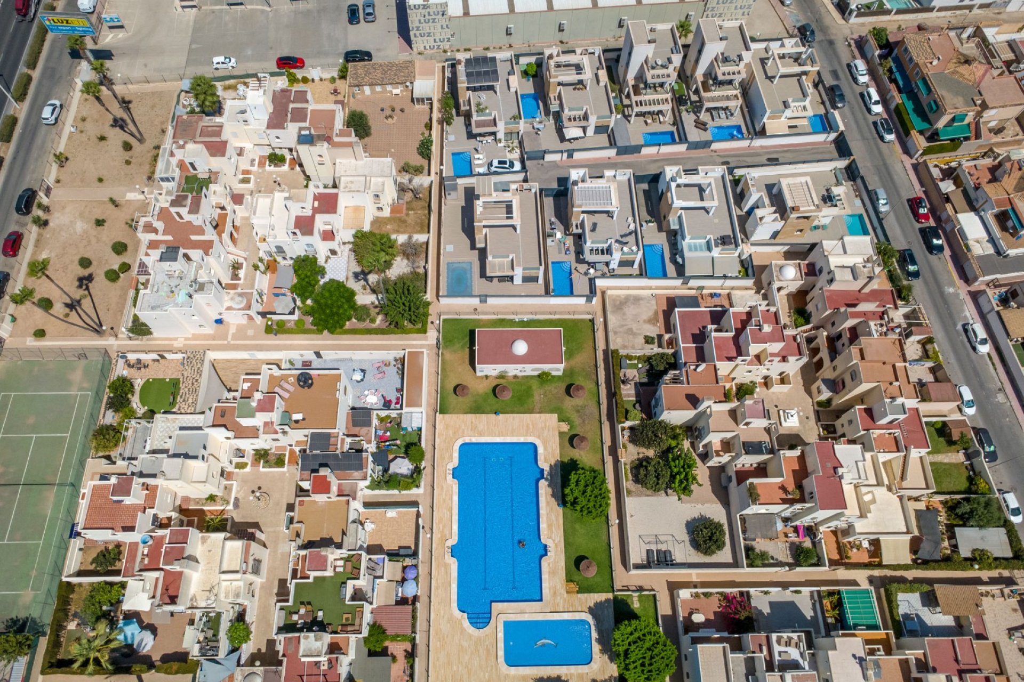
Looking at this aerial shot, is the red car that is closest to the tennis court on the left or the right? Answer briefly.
left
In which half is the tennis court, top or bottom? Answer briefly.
bottom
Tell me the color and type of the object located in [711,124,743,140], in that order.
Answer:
blue swimming pool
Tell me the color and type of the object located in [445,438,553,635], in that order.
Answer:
blue swimming pool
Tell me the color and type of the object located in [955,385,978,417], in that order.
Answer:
white car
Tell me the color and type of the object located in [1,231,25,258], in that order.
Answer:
red car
